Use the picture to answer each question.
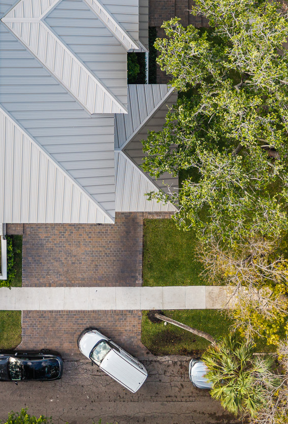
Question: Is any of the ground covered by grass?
Yes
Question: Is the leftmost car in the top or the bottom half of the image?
bottom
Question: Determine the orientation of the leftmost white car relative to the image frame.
diagonally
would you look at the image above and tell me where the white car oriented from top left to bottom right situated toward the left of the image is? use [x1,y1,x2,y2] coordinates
[73,324,149,392]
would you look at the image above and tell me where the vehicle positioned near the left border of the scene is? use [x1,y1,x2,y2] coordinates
[0,347,63,387]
